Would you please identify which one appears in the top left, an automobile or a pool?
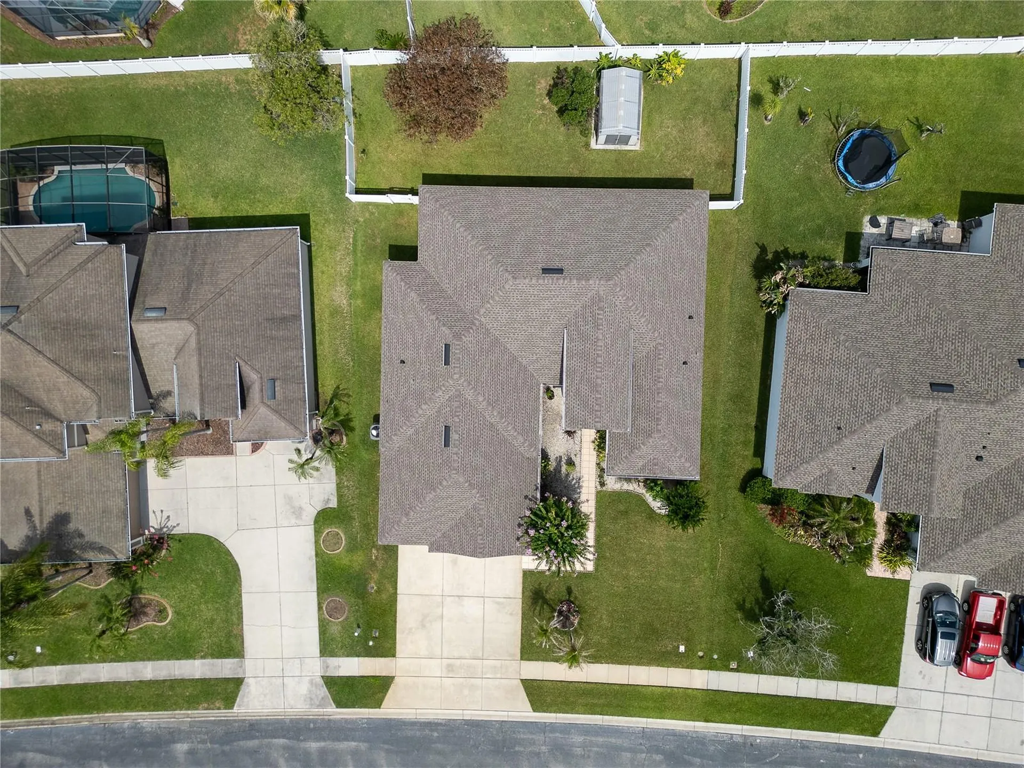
pool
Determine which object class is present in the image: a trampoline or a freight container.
trampoline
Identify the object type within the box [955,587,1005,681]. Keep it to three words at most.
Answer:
truck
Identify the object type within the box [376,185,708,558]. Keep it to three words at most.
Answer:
house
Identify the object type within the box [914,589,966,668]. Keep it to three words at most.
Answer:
car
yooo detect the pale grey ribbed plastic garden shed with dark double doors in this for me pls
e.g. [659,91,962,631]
[599,67,642,141]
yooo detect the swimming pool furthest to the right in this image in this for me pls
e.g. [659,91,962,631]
[29,161,161,236]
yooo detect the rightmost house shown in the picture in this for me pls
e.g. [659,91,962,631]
[770,203,1024,579]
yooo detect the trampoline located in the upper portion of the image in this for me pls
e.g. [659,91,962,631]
[828,115,915,201]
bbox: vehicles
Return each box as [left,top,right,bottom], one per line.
[1000,593,1024,670]
[914,589,966,668]
[955,587,1005,681]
